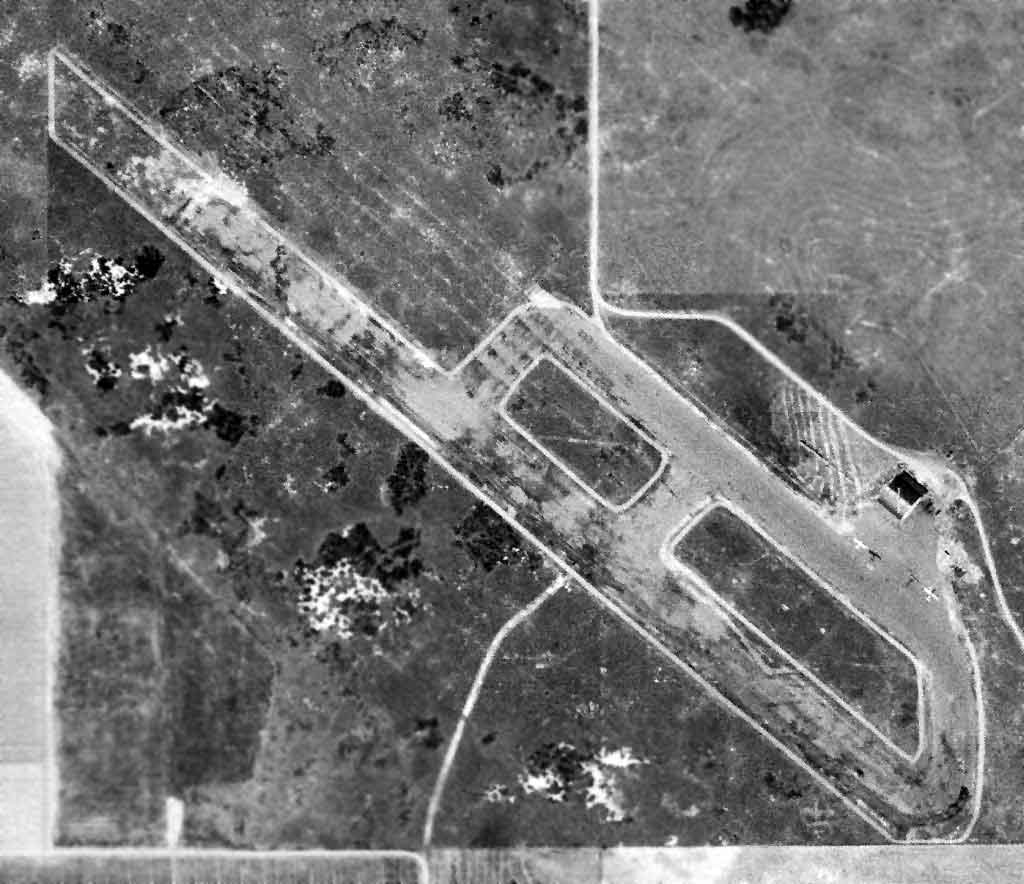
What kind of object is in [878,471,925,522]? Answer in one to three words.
hangar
